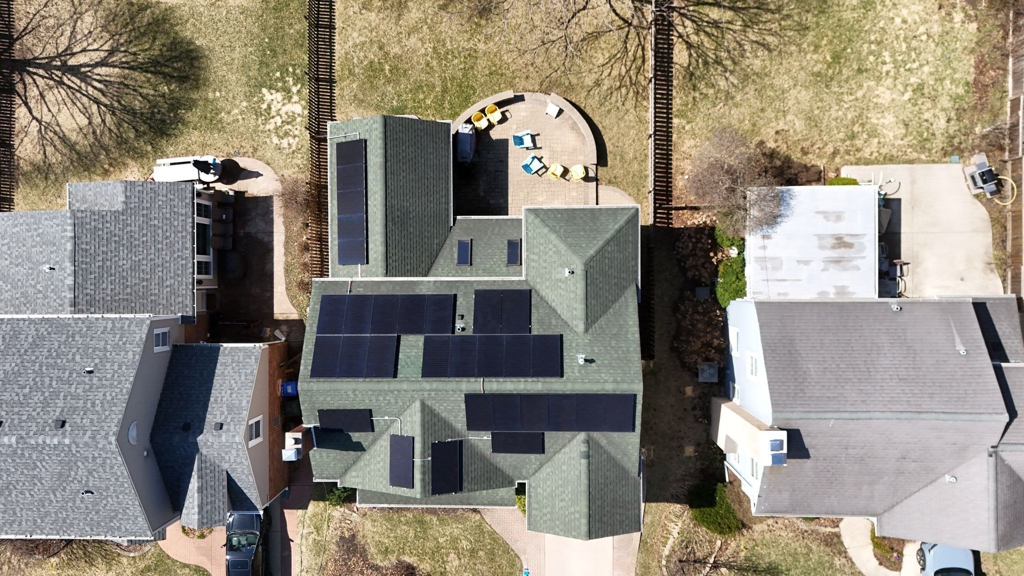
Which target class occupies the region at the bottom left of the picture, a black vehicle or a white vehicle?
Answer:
black vehicle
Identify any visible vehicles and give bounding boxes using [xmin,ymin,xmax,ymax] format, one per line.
[218,508,273,576]
[918,543,973,576]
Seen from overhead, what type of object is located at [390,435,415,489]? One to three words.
solar panel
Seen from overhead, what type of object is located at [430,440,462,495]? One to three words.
solar panel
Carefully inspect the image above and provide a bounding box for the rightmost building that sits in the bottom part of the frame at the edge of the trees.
[709,159,1024,552]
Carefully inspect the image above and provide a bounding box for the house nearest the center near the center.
[282,115,645,540]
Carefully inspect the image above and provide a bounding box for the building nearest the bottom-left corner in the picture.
[0,180,290,543]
